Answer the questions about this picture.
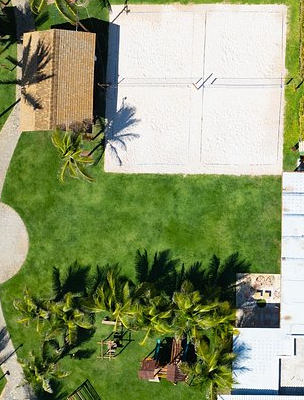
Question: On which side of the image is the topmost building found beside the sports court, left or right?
left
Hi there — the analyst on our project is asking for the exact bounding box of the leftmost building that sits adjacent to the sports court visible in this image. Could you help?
[20,29,101,135]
